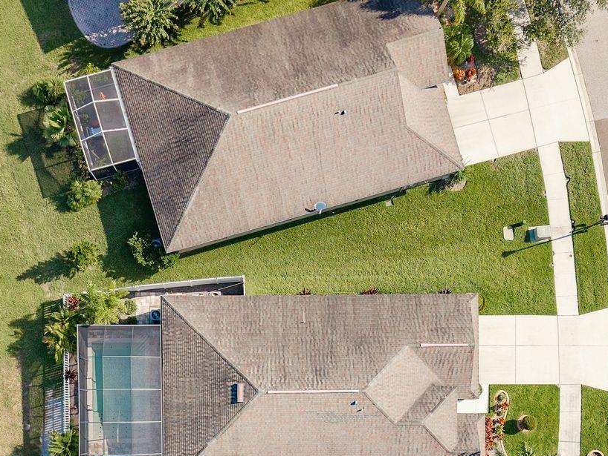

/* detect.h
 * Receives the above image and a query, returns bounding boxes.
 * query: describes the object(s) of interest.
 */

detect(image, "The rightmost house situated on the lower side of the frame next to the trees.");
[160,294,487,456]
